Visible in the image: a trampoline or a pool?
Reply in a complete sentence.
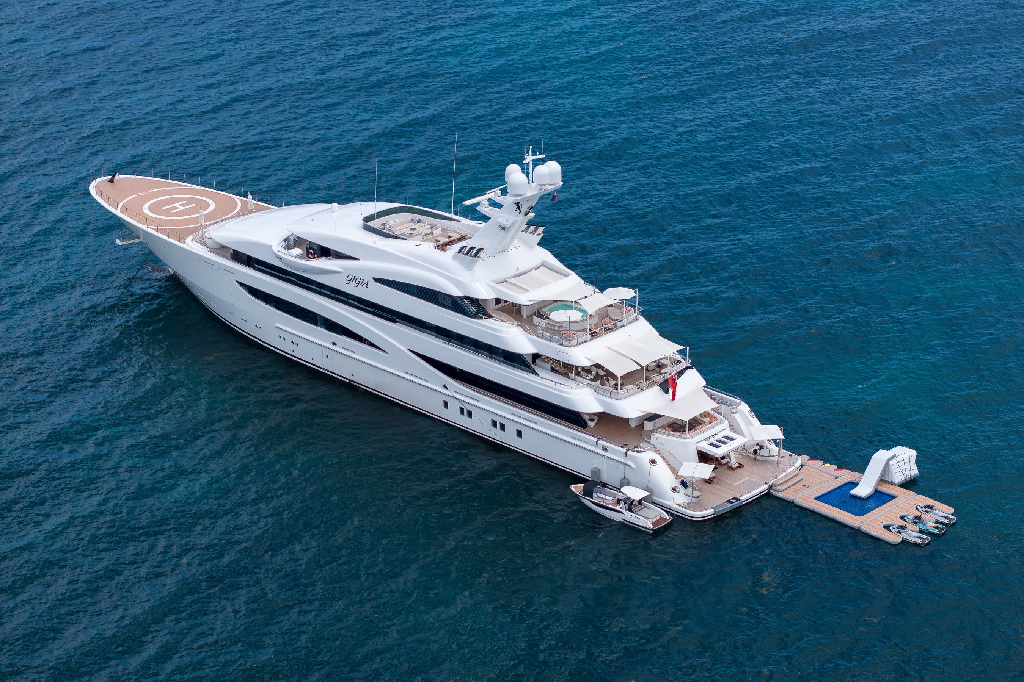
The one in the frame is a pool.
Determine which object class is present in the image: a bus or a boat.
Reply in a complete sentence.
The one in the frame is a boat.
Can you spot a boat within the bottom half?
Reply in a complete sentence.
Yes, the scene does show a boat within the bottom half.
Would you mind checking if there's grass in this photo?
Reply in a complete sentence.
No, there is no grass in the image.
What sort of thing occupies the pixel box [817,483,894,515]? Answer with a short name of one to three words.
swimming pool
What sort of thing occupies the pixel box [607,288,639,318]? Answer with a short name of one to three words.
umbrella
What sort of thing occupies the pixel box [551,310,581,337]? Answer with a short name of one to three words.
umbrella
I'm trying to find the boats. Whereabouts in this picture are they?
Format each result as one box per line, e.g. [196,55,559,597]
[892,525,929,548]
[92,133,797,521]
[919,504,956,527]
[907,513,944,537]
[569,480,676,539]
